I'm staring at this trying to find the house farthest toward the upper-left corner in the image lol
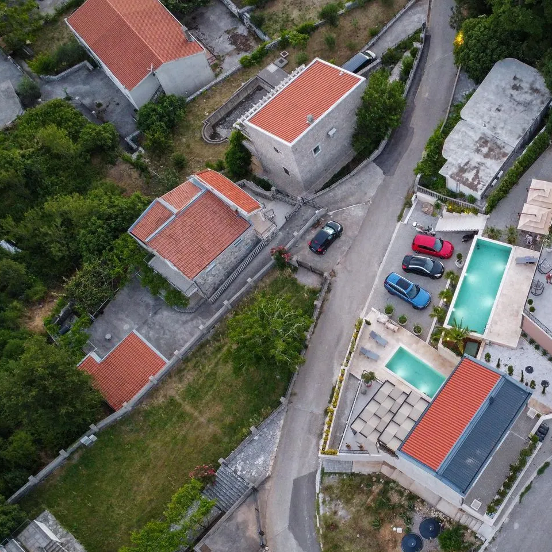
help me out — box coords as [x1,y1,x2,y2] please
[64,0,216,106]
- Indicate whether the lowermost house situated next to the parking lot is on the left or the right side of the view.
right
